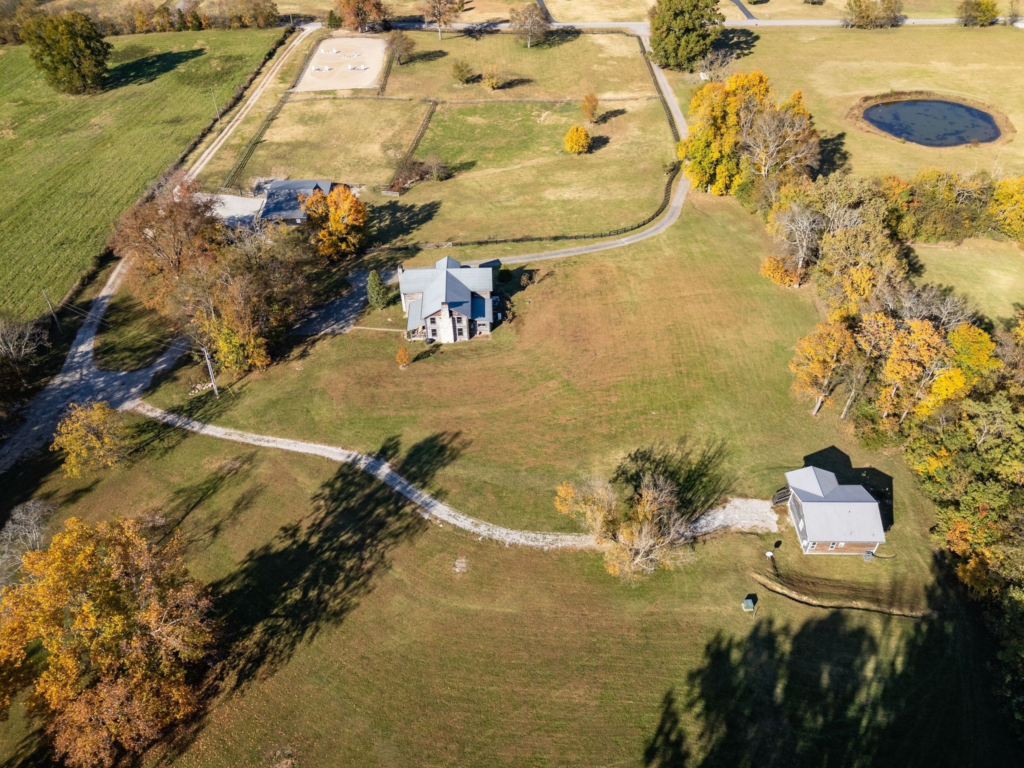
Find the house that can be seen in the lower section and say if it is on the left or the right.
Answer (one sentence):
The house that can be seen in the lower section sits on the right side.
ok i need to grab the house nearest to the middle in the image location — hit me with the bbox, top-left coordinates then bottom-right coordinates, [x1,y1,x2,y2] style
[400,257,493,343]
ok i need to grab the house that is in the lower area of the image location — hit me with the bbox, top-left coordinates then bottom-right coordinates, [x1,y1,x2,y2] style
[757,462,887,557]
